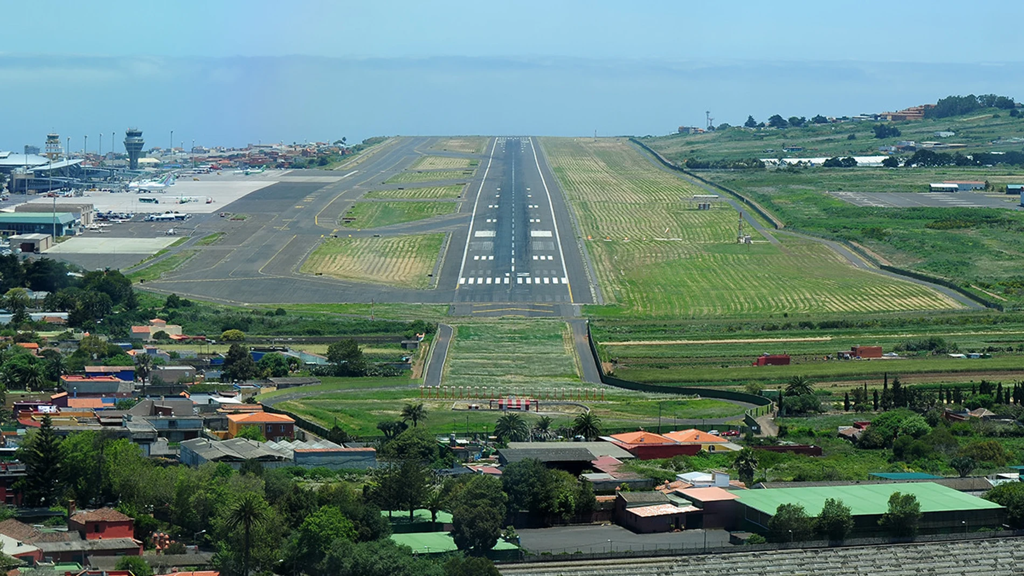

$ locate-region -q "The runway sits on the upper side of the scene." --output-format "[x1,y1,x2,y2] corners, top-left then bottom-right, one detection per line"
[451,137,576,316]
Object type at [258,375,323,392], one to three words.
shed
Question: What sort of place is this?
residential area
